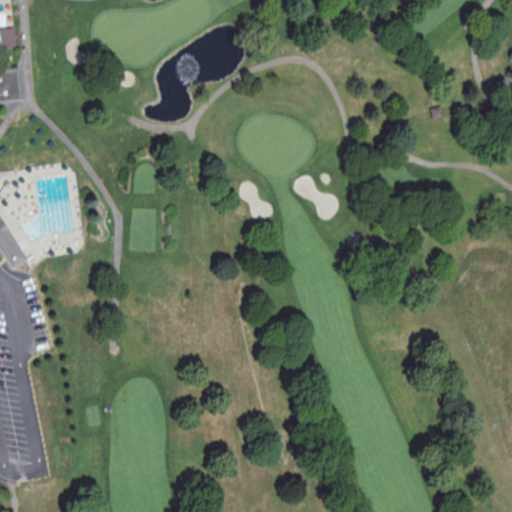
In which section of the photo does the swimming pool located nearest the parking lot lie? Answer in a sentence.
Look in the left portion of the view to spot the swimming pool located nearest the parking lot.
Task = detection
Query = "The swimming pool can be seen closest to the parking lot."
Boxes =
[0,164,84,270]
